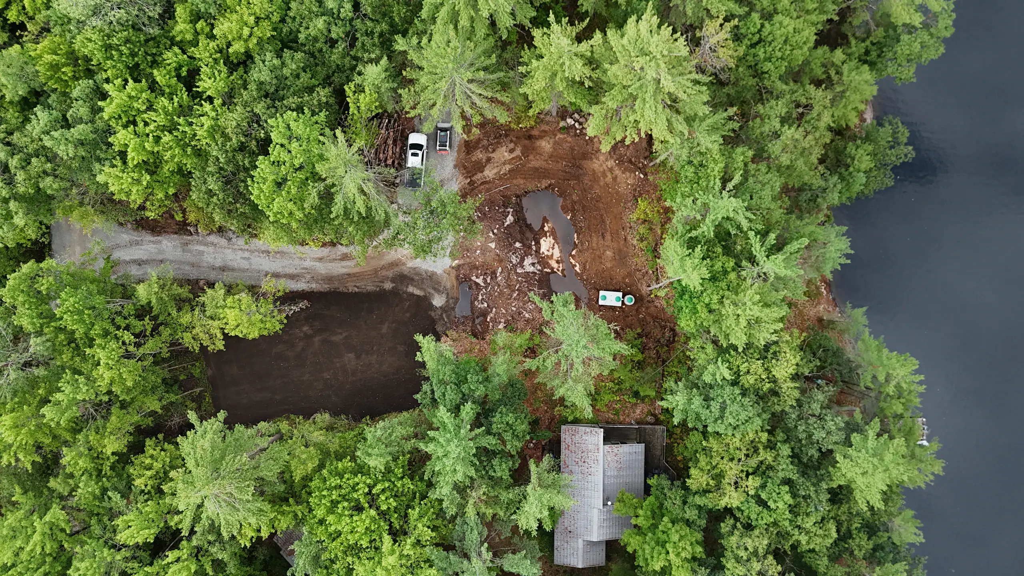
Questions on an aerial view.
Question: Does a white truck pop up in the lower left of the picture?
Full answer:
No, there is no white truck in the lower left of the picture.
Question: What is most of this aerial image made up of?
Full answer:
The largest share of the image is taken up by trees.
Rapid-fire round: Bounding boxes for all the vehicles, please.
[404,132,428,192]
[435,124,453,154]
